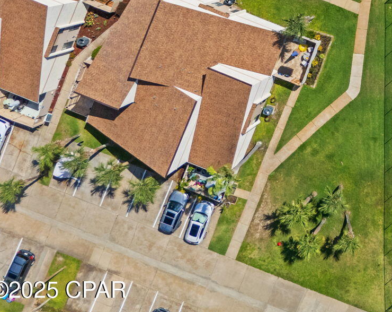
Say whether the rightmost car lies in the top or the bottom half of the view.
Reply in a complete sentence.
The bottom half of the photo is where the rightmost car is.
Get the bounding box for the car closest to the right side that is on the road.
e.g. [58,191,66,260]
[179,202,211,250]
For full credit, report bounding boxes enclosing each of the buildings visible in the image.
[0,0,120,131]
[61,0,319,202]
